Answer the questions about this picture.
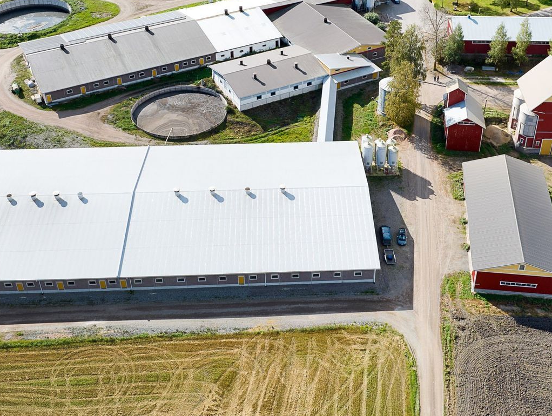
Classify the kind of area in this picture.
industrial area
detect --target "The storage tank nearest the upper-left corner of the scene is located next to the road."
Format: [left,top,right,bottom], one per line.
[0,0,70,38]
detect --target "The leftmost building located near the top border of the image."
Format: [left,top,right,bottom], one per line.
[21,9,219,105]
